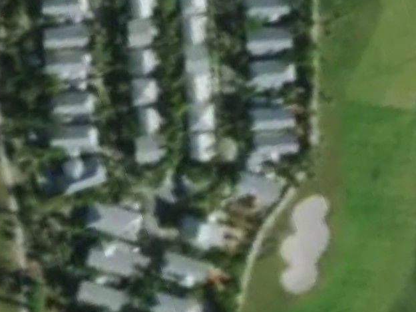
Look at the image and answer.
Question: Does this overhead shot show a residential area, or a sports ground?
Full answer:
The picture captures a residential area.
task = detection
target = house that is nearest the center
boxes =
[190,133,216,161]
